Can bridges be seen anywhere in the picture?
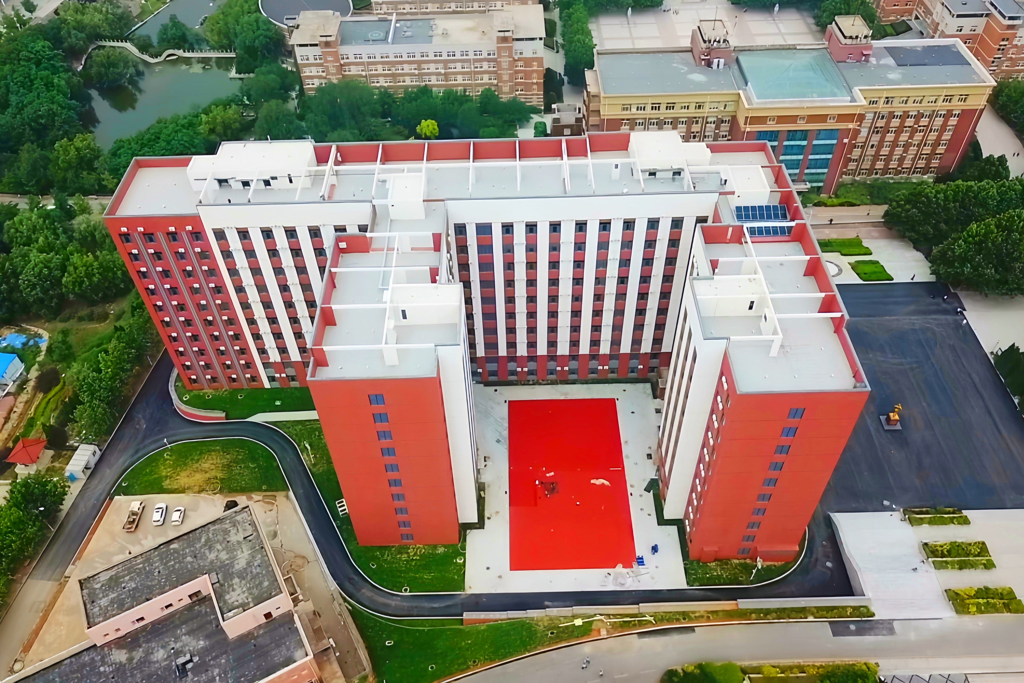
Yes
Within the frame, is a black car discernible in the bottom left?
No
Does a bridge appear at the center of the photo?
No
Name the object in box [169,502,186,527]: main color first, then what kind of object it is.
white car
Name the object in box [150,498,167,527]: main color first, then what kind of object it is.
white car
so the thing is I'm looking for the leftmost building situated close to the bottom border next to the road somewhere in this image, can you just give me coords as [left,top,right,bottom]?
[0,503,317,683]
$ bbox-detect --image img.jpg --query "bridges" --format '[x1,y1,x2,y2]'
[75,38,222,70]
